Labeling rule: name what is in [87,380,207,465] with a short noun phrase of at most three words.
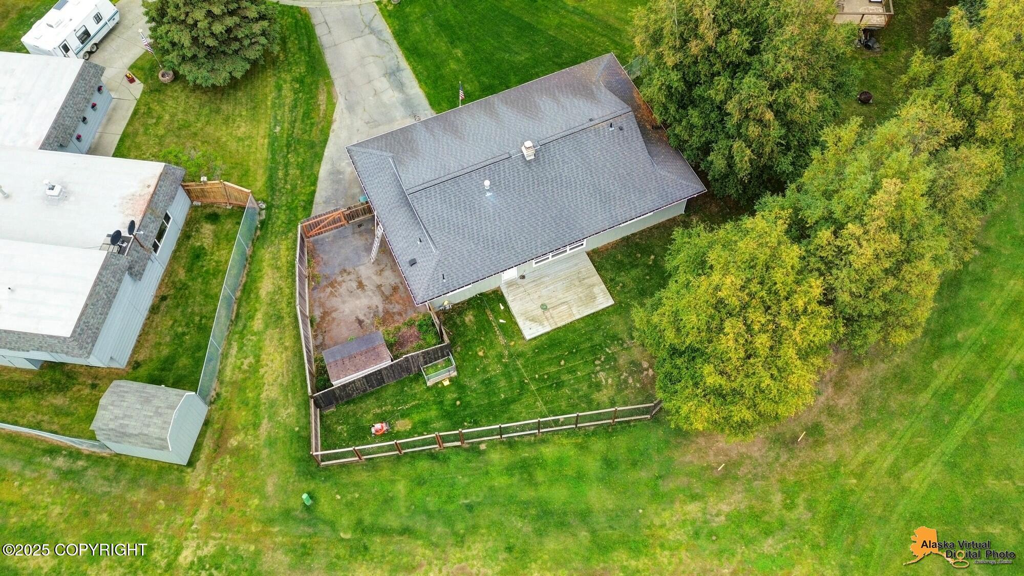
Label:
shed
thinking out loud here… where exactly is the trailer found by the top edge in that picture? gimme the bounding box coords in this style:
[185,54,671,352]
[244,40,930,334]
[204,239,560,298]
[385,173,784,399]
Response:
[25,0,123,60]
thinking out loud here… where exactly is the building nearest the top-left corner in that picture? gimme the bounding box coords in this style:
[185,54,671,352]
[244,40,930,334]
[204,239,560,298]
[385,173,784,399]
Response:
[0,51,191,370]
